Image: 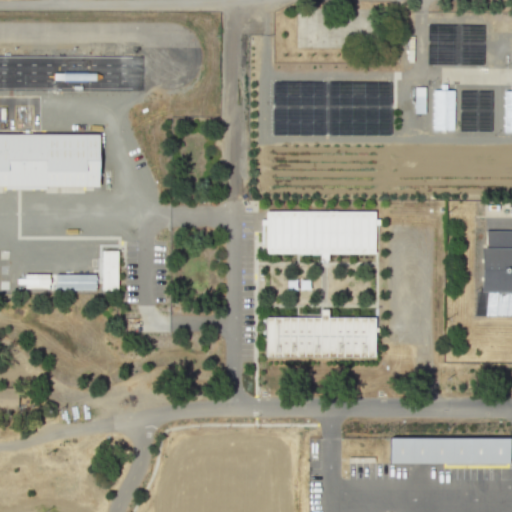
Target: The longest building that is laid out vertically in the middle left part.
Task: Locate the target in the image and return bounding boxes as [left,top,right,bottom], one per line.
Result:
[103,250,120,292]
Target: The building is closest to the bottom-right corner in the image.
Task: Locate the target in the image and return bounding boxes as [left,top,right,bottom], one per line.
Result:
[392,438,512,469]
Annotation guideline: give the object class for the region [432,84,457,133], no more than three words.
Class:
greenhouse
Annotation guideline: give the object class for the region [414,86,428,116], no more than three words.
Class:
shed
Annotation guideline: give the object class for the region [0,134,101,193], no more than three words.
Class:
hangar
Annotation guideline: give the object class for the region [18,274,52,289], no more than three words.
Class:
building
